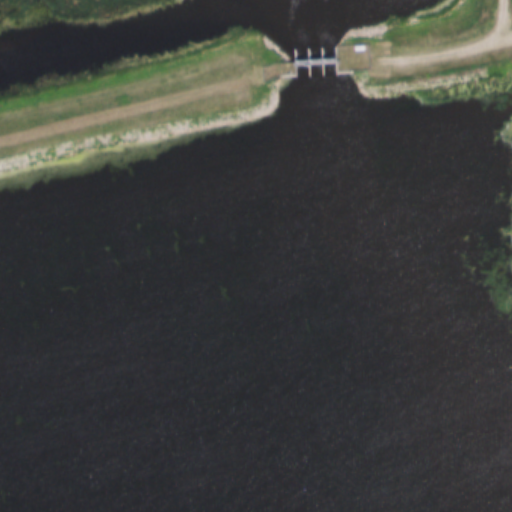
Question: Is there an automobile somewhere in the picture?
No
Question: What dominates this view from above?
water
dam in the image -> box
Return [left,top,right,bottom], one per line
[282,46,355,79]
